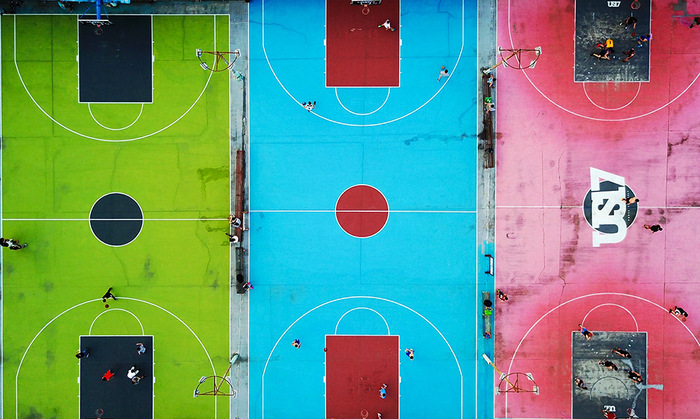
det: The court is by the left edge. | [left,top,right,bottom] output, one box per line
[1,14,230,419]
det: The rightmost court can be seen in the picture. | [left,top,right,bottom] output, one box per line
[494,0,700,419]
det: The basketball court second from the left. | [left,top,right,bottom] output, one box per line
[247,0,477,419]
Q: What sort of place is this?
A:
sports ground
